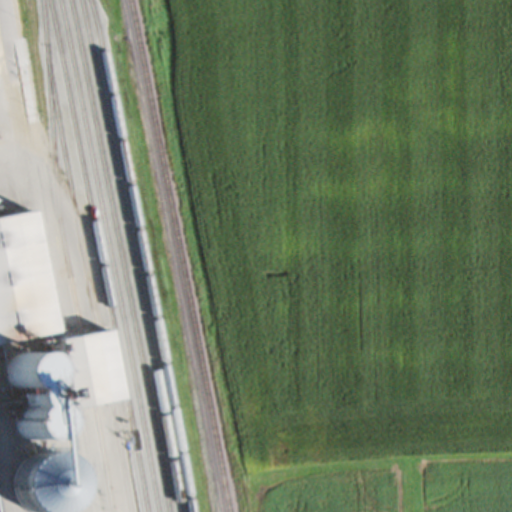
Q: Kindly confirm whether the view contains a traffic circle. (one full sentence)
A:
No, there isn't any traffic circle down there.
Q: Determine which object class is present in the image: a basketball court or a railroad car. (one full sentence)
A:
Visible in the photo is a railroad car.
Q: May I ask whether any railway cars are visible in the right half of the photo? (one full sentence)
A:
No, no railway car can be made out in the right half of the photo.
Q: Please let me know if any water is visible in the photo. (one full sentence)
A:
No, the picture contains no water.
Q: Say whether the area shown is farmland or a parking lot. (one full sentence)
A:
The area seen from above is farmland.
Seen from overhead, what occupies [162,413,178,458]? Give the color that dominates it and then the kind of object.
white rail car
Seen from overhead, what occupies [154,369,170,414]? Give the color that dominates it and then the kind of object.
white rail car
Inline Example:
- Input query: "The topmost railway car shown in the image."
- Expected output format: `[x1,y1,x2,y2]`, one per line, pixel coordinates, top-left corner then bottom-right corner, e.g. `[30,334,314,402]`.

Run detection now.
[102,49,119,94]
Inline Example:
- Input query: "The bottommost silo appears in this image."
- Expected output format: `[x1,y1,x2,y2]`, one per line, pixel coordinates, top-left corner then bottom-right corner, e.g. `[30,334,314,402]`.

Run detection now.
[14,450,100,512]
